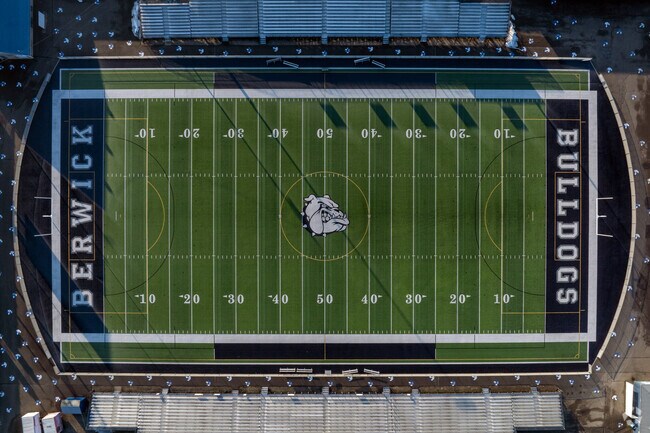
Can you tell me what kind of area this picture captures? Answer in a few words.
sports ground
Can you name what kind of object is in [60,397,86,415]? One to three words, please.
shed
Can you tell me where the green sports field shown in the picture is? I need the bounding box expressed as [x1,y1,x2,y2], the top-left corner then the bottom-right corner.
[17,58,632,373]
